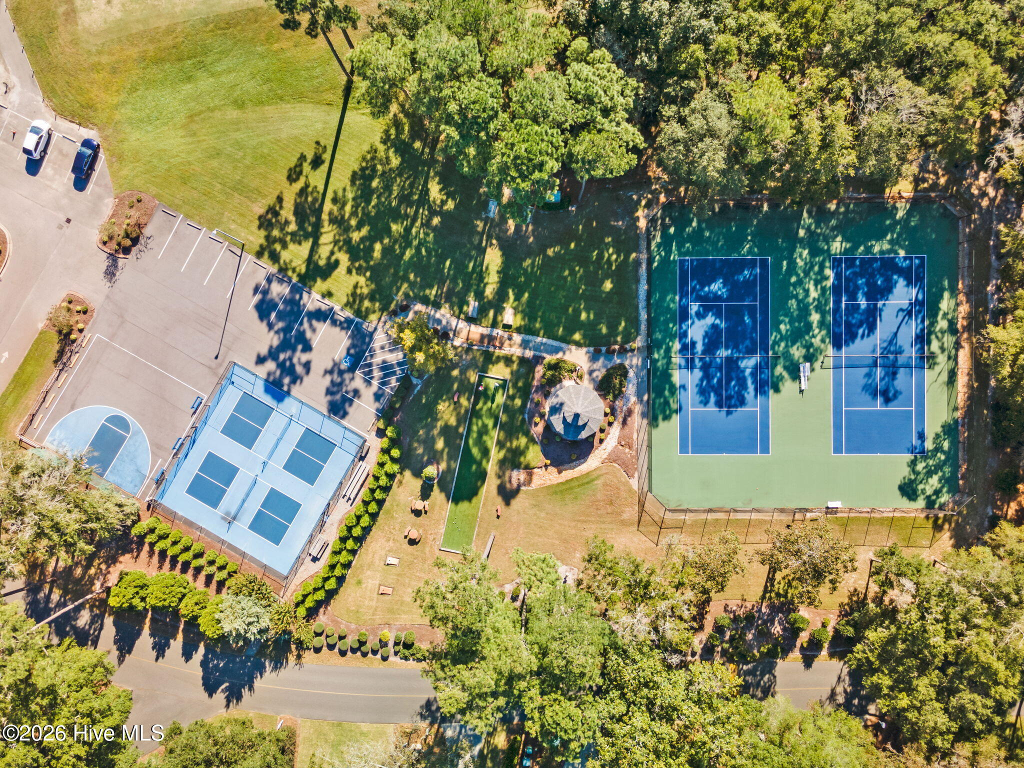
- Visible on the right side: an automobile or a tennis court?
tennis court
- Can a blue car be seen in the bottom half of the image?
No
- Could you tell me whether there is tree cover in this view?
Yes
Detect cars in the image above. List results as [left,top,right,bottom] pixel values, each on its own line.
[68,142,99,181]
[20,118,52,158]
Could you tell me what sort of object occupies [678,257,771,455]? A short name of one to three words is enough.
tennis court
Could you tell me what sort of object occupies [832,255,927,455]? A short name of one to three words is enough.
tennis court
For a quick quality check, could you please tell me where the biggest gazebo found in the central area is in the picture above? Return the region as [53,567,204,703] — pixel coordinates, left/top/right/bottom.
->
[548,384,604,441]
